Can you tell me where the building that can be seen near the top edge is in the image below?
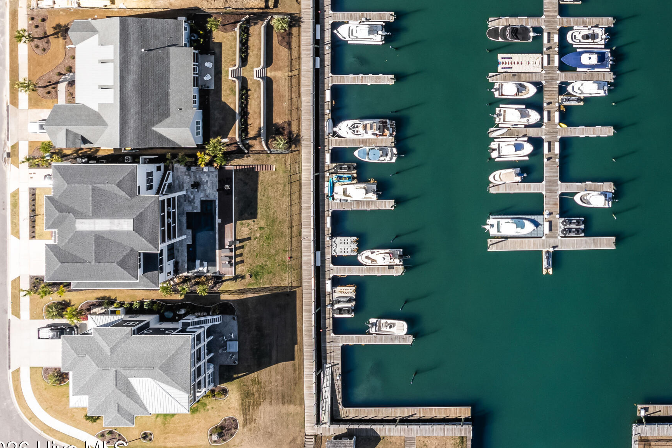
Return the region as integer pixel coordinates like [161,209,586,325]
[43,17,204,148]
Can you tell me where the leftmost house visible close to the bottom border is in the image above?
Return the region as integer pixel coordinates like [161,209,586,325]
[60,310,227,428]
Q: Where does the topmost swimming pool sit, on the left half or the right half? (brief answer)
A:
left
